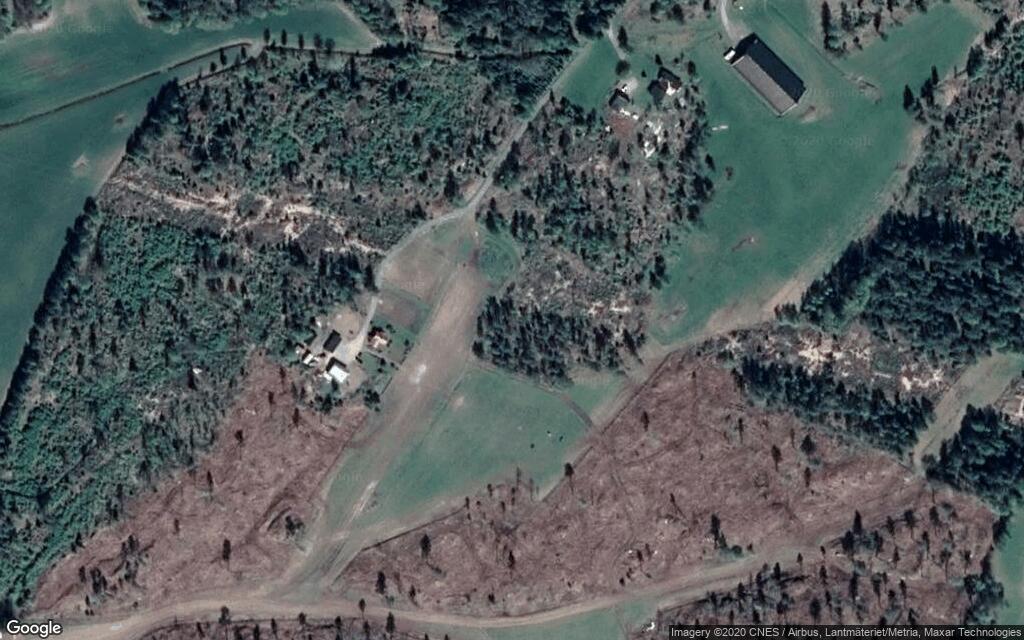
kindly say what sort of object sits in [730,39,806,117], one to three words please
barn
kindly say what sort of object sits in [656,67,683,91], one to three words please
house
